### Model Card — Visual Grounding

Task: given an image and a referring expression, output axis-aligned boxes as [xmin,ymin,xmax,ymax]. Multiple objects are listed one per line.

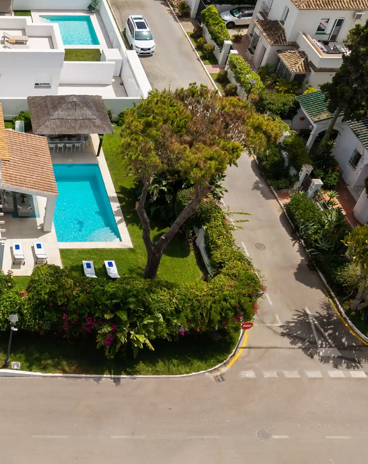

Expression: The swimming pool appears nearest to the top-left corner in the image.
[39,15,99,45]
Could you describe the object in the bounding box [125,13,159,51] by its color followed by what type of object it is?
white car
